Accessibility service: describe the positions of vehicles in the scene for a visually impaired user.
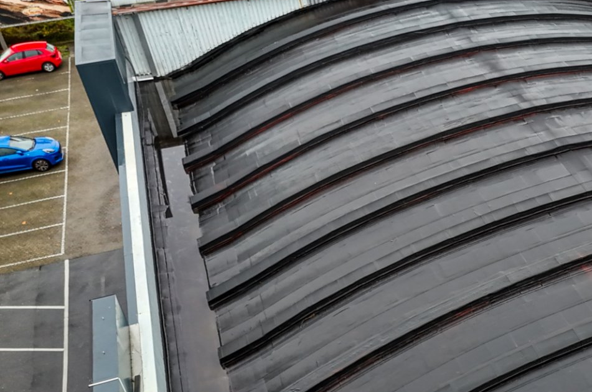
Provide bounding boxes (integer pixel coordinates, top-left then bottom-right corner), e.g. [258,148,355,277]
[0,40,60,78]
[0,134,64,176]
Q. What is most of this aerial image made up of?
buildings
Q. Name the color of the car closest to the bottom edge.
blue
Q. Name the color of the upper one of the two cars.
red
